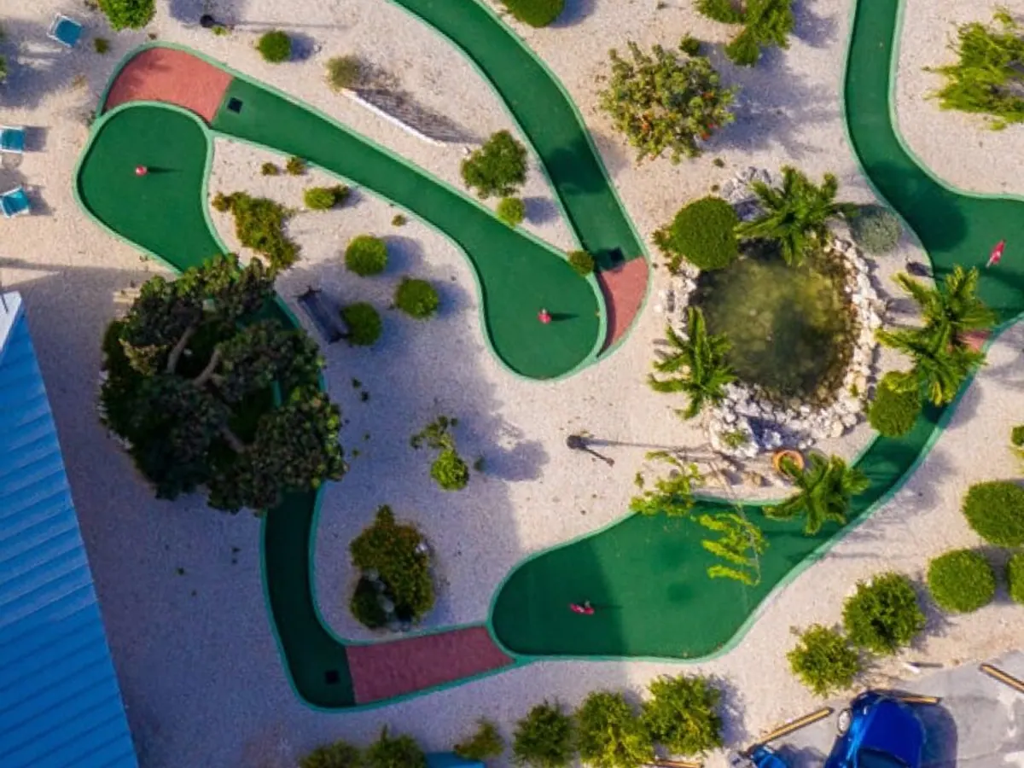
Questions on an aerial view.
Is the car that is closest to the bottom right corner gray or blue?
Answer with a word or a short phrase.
blue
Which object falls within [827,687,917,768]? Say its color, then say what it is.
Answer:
blue car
